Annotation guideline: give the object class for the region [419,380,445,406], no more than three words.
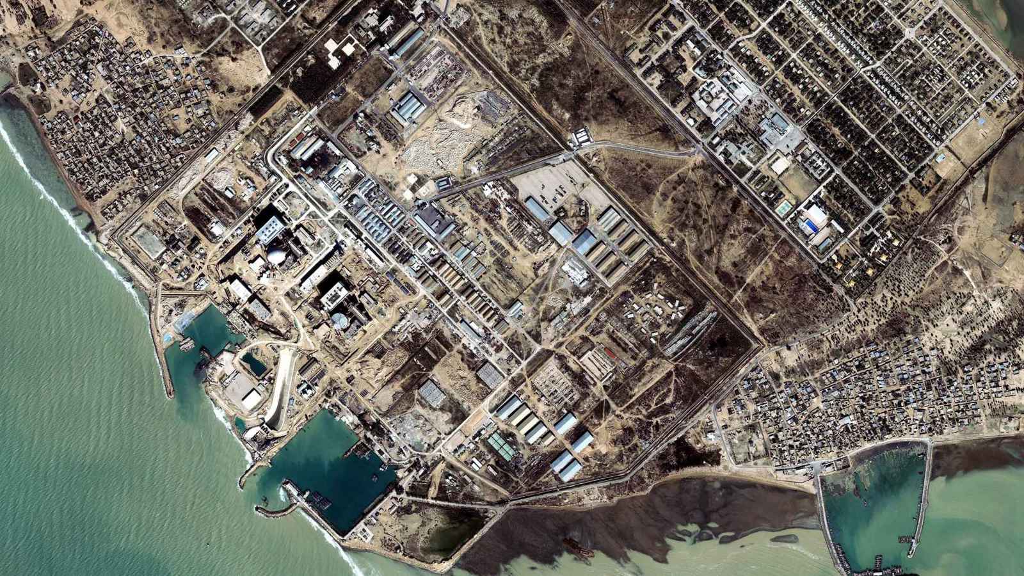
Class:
building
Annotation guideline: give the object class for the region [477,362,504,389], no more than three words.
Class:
building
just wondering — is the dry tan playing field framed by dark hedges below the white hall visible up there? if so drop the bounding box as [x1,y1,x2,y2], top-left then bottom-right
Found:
[781,164,818,201]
